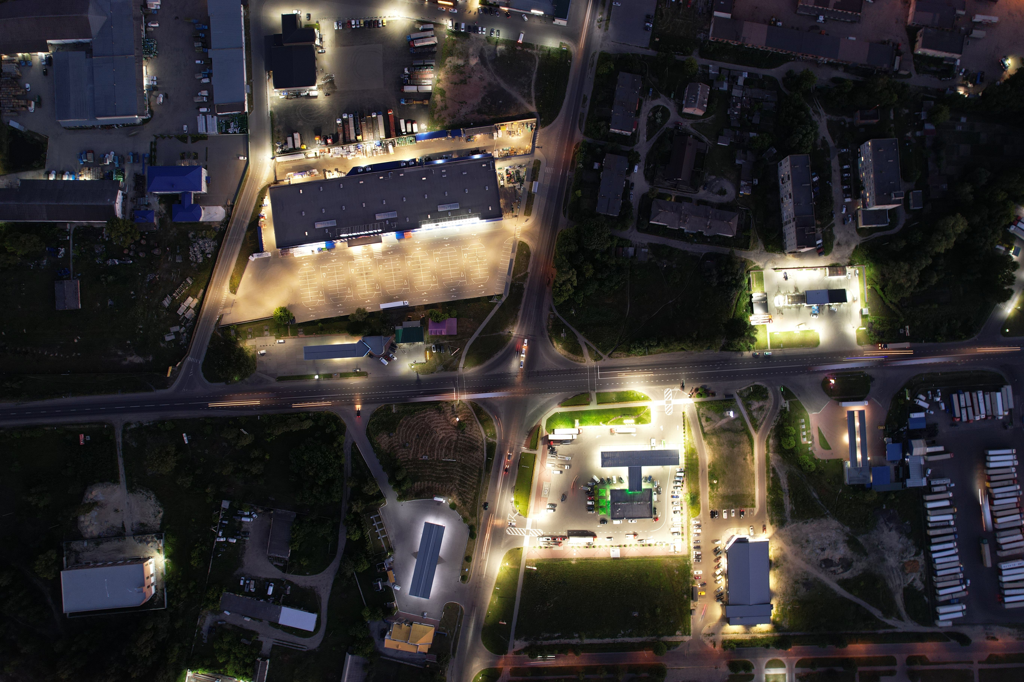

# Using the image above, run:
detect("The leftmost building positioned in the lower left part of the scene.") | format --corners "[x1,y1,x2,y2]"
[61,557,161,613]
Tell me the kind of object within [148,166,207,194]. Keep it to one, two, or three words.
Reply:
house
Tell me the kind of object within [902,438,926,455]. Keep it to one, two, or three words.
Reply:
barn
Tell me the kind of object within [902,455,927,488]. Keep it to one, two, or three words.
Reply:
shed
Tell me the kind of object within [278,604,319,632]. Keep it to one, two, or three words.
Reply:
building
